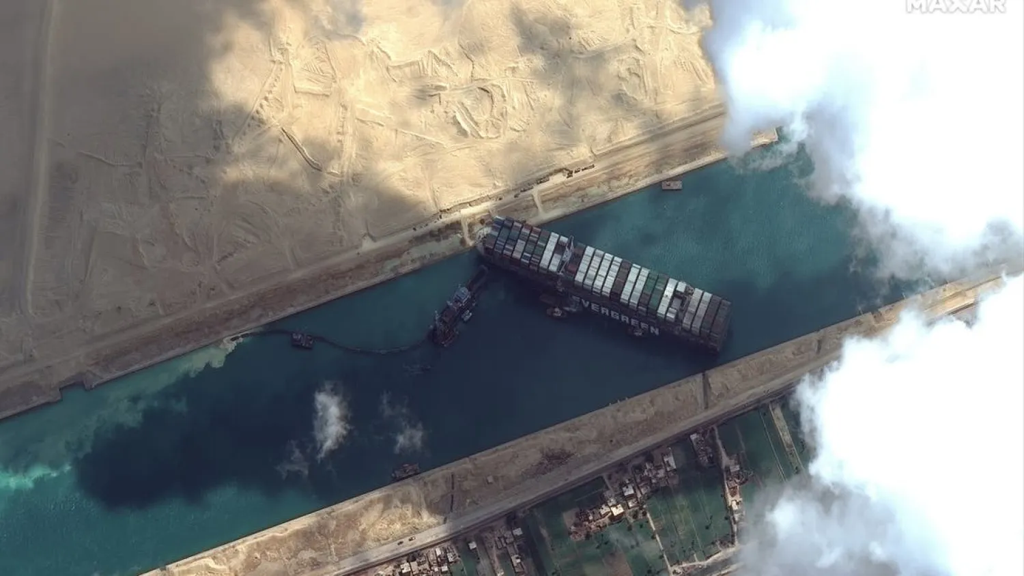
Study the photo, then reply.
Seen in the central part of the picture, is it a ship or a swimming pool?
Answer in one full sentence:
Visible in the central part of the picture is a ship.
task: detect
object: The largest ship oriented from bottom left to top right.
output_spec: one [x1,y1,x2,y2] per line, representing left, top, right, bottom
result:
[433,274,482,346]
